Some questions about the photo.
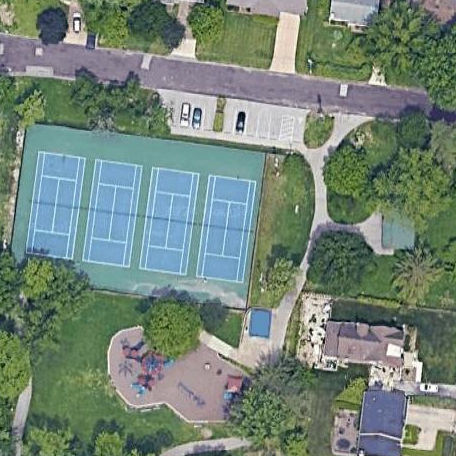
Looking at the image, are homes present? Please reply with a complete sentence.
Yes, looking at the shot, I can spot a home.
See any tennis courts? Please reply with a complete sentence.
Yes, the photo shows a tennis court.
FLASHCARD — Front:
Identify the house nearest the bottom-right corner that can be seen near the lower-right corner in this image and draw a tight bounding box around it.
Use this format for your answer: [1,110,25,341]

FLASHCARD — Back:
[357,391,405,456]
